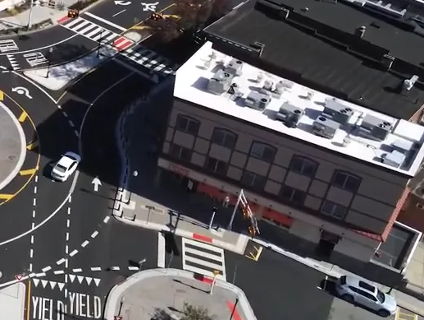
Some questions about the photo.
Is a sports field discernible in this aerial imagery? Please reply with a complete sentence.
No, no sports field is visible in the view.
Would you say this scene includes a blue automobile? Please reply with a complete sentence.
No, the frame has no blue automobile in it.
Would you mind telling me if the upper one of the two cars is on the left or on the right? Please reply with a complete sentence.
The upper one of the two cars sits on the left side.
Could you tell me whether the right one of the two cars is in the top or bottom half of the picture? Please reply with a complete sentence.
The right one of the two cars is in the bottom half of the image.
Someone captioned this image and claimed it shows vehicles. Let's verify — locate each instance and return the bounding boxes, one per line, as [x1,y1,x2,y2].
[340,273,401,317]
[50,151,80,180]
